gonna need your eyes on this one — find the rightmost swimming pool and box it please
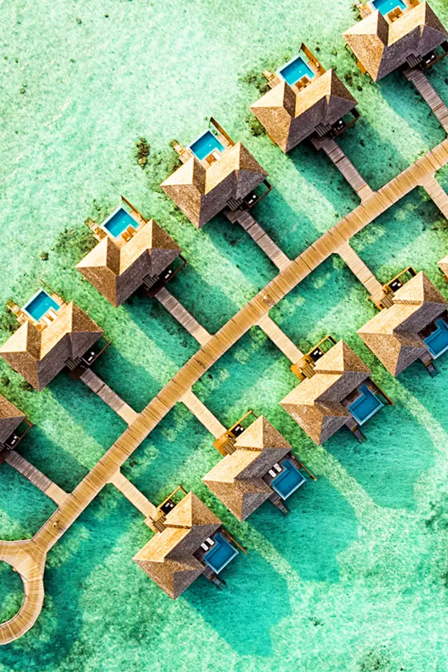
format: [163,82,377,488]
[422,319,448,359]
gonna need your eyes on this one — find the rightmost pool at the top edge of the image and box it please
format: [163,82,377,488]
[366,0,408,19]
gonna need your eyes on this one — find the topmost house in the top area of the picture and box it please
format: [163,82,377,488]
[343,0,448,91]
